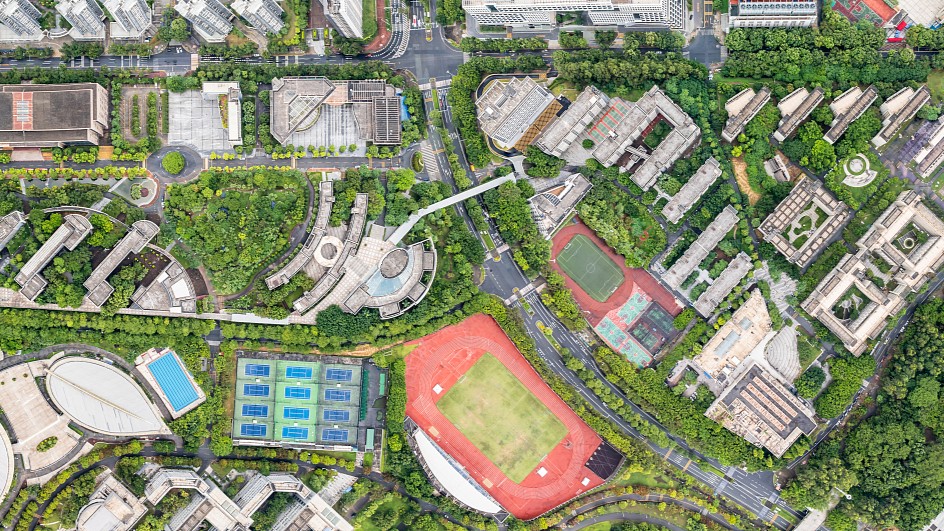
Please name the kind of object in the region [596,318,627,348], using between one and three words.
basketball court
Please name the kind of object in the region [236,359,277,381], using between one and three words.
tennis court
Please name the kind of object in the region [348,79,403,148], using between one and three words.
building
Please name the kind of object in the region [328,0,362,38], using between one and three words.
building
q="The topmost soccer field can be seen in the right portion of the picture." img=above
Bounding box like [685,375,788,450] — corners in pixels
[551,219,683,327]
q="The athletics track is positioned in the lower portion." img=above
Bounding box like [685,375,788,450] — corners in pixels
[404,313,626,520]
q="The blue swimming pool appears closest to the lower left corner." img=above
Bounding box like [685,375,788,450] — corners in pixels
[136,348,204,419]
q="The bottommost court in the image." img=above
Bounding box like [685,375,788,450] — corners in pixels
[584,442,625,483]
